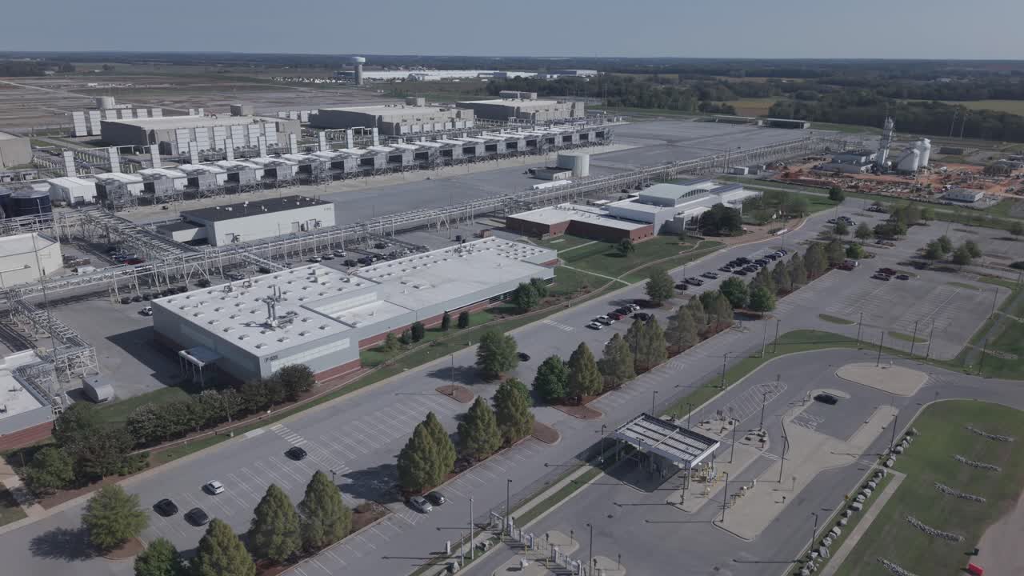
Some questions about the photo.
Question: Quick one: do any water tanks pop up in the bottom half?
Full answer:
No, looking in the bottom half, there is no water tank.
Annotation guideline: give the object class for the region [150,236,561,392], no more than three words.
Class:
building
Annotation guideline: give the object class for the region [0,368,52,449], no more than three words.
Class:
building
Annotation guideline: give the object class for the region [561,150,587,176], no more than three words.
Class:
water tank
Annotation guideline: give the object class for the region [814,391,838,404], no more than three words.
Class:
vehicle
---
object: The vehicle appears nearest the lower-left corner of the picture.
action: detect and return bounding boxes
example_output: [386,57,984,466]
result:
[156,500,178,516]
